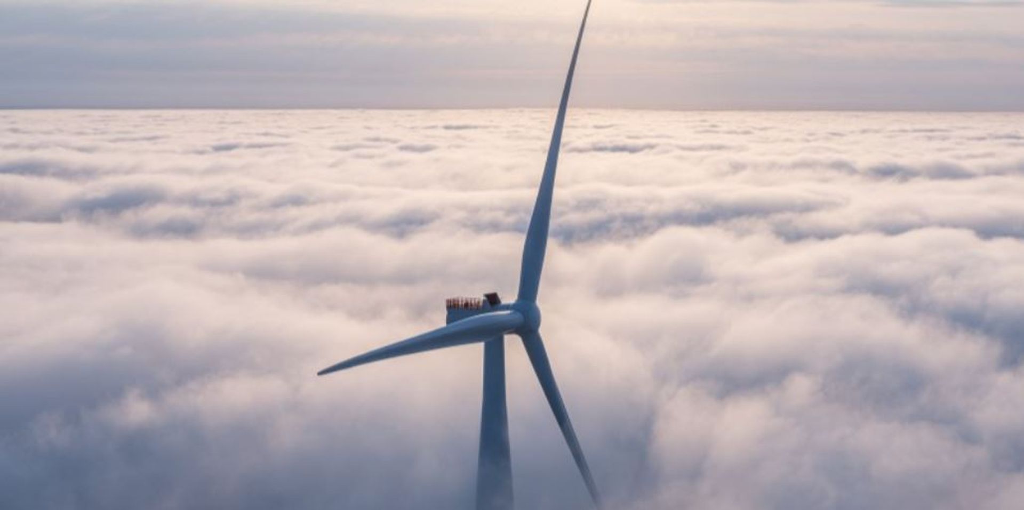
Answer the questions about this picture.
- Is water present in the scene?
Yes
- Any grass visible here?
No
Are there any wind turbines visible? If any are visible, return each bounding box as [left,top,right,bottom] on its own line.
[319,0,598,510]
